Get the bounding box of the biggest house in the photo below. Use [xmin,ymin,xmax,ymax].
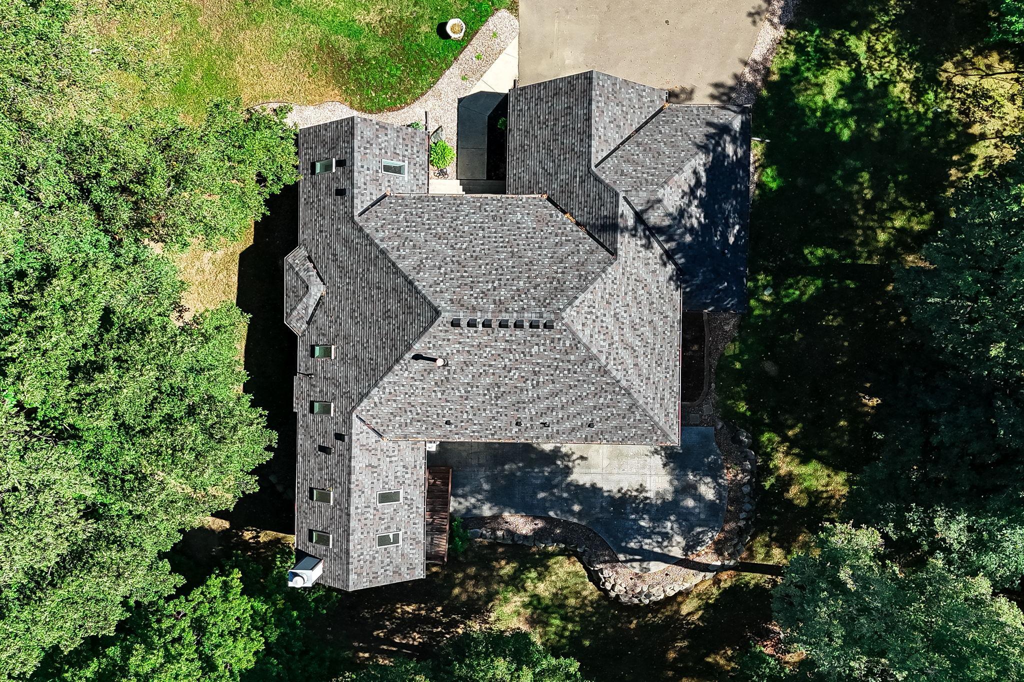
[282,68,755,591]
